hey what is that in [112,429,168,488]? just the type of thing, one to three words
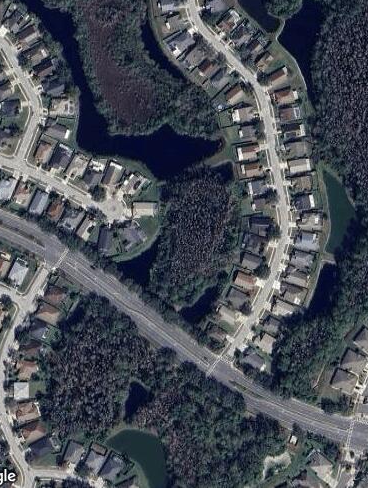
pond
